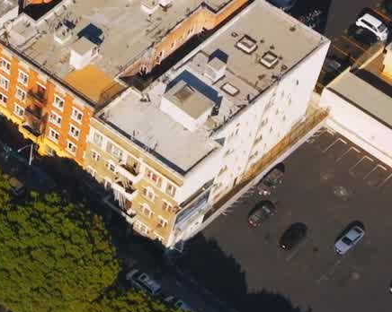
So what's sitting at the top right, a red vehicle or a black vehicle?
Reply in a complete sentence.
It is a black vehicle that can be seen at the top right.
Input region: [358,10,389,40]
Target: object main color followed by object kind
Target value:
white car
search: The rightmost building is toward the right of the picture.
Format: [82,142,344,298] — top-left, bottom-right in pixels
[312,68,392,169]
